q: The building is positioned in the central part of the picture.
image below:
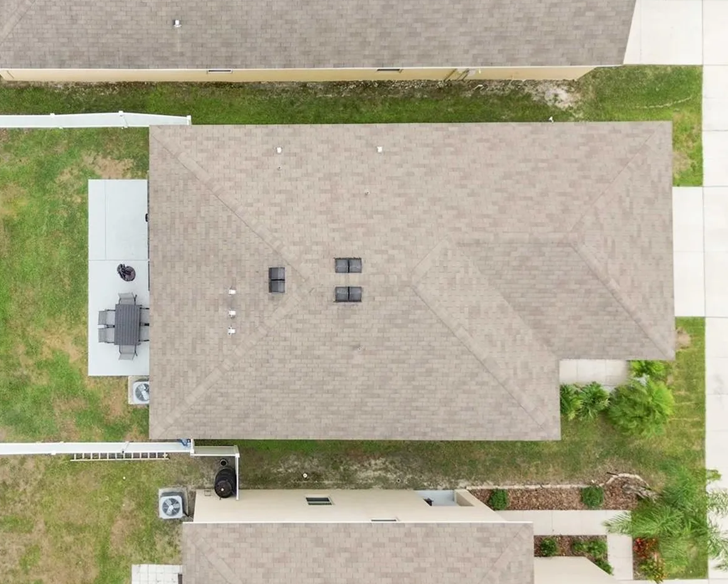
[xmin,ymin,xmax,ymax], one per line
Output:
[147,121,675,440]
